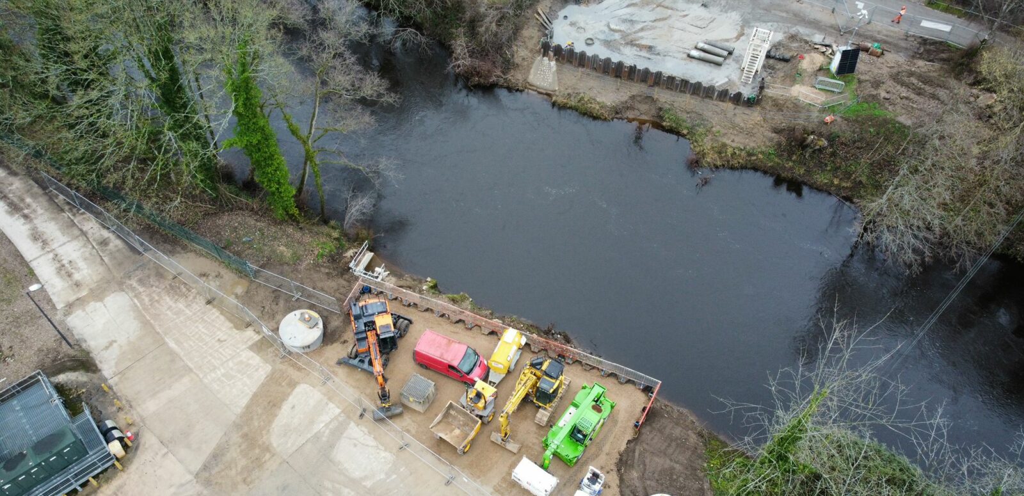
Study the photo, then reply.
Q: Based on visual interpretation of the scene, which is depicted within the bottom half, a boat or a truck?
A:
truck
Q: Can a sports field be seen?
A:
No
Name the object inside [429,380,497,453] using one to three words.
truck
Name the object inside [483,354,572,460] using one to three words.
work vehicle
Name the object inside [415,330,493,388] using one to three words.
van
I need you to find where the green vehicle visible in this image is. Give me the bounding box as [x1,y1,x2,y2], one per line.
[538,377,615,473]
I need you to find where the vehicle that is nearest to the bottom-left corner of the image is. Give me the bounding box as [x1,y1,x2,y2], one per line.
[337,296,426,422]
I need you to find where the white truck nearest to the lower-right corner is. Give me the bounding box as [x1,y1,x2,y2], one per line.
[563,467,605,496]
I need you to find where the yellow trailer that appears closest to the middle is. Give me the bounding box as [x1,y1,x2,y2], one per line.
[488,332,528,388]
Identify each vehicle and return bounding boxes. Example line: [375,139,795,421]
[563,467,605,496]
[483,354,572,460]
[429,380,497,453]
[415,330,493,388]
[337,296,426,422]
[538,377,615,473]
